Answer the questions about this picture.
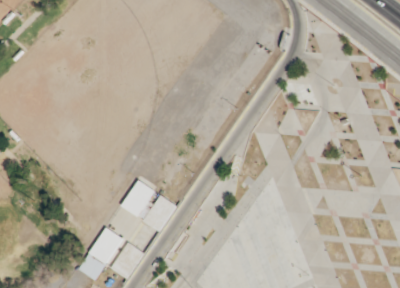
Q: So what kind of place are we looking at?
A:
sports ground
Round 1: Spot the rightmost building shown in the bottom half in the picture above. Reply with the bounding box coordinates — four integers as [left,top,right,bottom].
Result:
[143,196,180,232]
